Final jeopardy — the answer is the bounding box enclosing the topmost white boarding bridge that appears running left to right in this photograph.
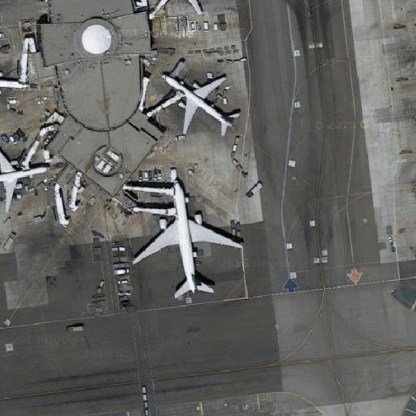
[120,183,174,195]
